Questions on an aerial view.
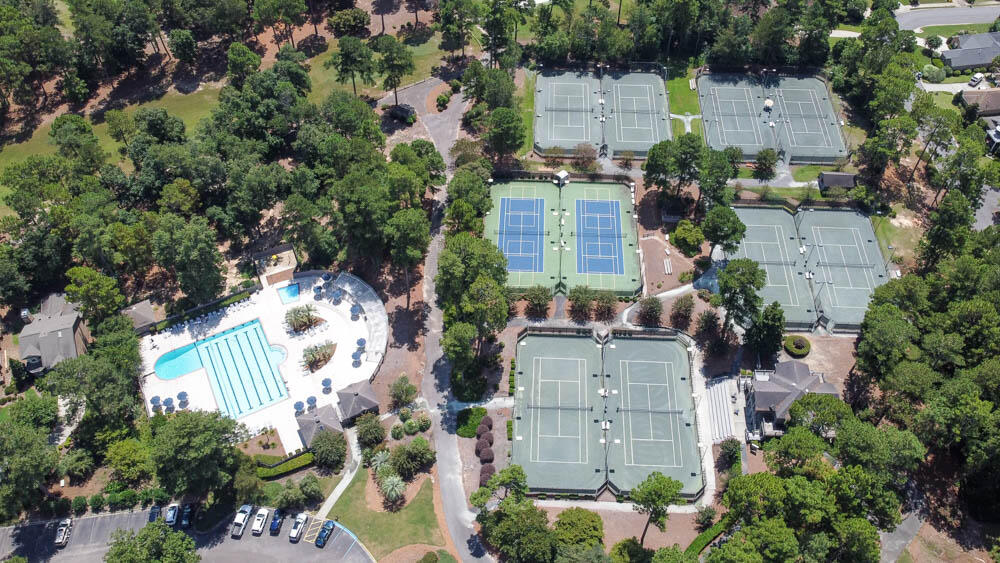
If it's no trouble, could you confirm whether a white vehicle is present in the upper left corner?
No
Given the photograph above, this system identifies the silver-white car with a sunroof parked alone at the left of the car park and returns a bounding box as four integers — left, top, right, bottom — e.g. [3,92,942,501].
[51,518,74,545]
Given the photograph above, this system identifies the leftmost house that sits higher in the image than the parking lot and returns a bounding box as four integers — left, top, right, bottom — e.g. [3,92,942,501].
[15,287,98,385]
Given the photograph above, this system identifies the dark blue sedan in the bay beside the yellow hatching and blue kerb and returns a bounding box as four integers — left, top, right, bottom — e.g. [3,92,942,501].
[315,520,335,547]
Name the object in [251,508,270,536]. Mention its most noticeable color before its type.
white car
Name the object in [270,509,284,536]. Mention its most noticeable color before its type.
blue car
